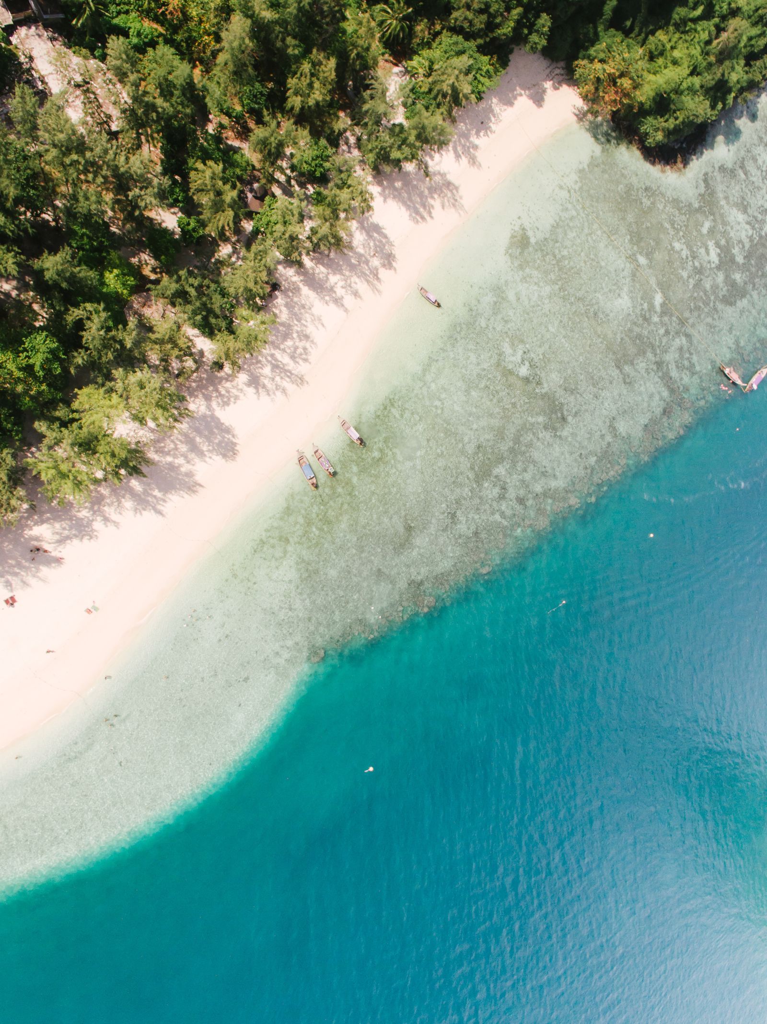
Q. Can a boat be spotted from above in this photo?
Yes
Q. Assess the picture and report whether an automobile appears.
No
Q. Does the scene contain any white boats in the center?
Yes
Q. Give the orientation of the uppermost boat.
at an angle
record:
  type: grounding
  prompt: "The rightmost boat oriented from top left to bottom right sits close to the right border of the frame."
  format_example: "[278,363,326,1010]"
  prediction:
[720,362,753,385]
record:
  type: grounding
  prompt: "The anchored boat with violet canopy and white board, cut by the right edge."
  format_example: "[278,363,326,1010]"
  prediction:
[746,364,767,393]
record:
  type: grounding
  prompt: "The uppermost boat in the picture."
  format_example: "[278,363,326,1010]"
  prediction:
[417,281,448,316]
